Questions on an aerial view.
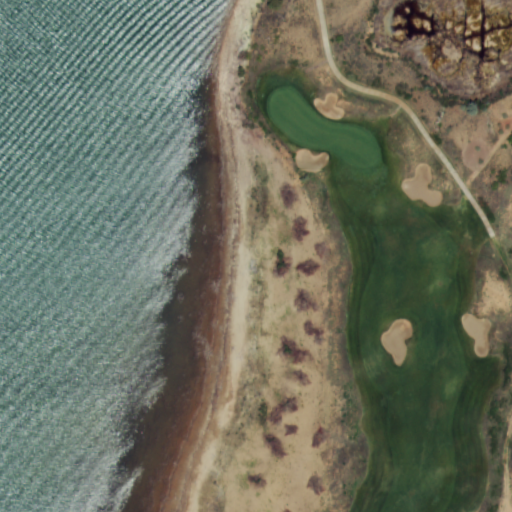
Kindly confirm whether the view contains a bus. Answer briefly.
No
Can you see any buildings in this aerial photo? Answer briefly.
No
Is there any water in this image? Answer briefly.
Yes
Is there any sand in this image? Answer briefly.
Yes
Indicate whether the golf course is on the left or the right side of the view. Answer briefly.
right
